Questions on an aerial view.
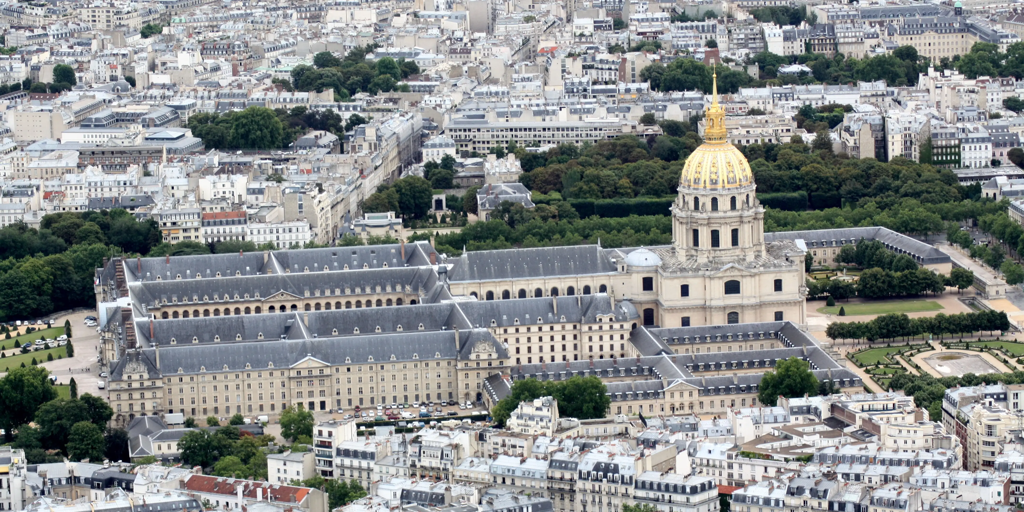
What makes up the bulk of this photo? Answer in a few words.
buildings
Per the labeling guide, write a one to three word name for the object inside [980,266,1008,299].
building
